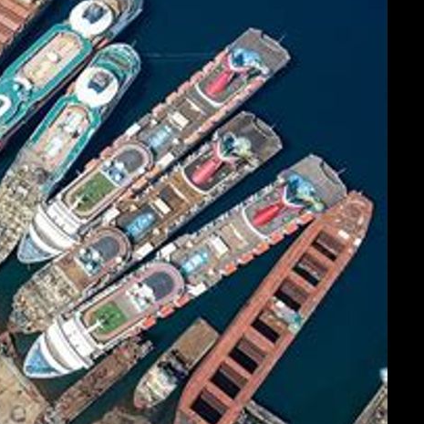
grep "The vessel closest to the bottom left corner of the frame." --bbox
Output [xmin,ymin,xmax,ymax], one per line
[34,337,154,424]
